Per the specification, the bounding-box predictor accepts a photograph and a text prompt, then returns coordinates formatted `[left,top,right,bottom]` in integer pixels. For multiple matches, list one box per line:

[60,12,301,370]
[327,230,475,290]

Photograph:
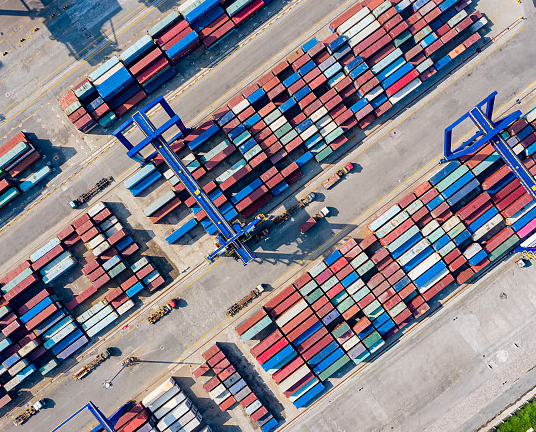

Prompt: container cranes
[113,94,261,266]
[53,401,127,432]
[444,94,536,208]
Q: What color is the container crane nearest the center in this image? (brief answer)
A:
blue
